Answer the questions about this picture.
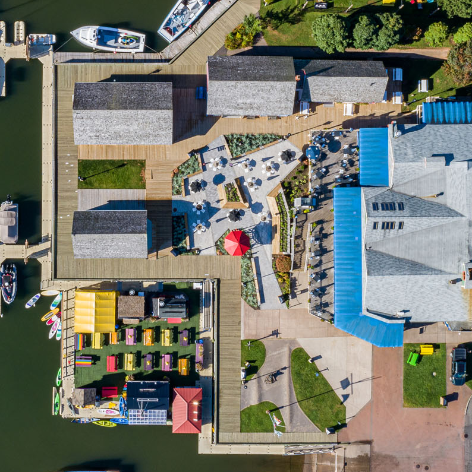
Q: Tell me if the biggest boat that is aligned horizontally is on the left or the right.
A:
left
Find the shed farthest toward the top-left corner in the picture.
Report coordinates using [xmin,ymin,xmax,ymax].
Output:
[70,82,173,145]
